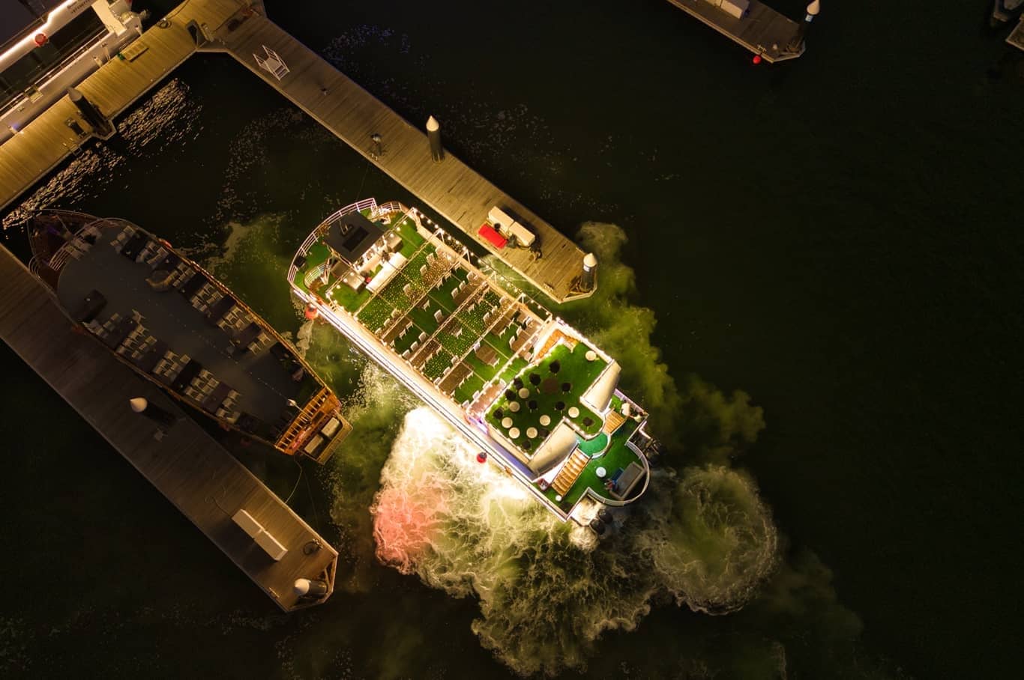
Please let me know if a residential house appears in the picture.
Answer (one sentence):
No, the picture doesn't show any residential house.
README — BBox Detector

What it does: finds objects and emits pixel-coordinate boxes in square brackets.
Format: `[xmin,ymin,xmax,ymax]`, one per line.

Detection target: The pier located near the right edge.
[1002,15,1024,57]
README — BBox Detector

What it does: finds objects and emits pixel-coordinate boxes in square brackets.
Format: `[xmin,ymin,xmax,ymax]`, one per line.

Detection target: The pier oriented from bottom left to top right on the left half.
[0,0,269,218]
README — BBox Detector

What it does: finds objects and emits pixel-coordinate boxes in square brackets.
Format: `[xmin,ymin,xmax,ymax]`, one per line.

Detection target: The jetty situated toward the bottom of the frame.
[0,240,341,614]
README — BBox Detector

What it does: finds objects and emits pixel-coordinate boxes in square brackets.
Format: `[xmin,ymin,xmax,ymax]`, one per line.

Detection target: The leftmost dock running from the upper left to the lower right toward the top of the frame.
[226,16,599,305]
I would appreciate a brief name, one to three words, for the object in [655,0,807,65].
pier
